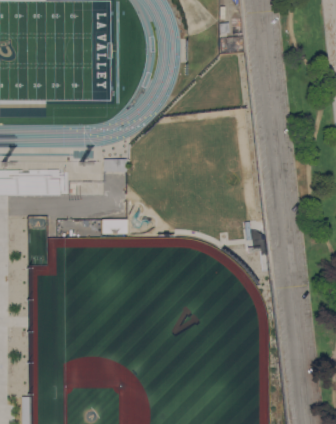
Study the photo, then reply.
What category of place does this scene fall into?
sports ground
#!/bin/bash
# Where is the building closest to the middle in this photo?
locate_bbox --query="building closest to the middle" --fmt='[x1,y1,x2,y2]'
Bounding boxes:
[100,219,128,234]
